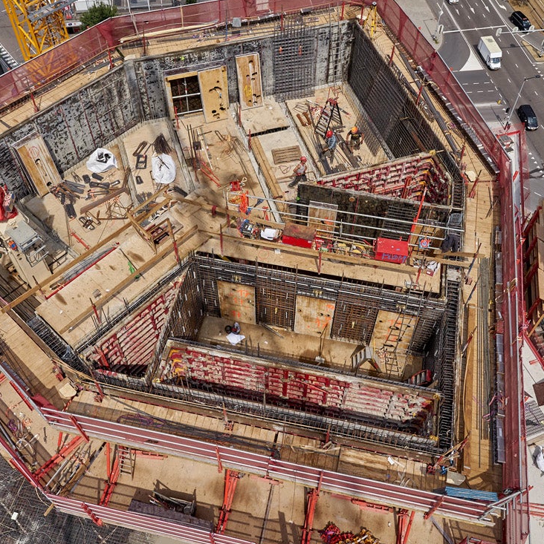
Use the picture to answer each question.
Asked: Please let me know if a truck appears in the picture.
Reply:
Yes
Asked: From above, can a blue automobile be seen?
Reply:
No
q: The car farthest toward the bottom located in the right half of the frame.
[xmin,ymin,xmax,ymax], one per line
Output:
[517,103,539,129]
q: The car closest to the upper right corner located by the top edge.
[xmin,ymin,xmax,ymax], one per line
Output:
[512,8,530,29]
